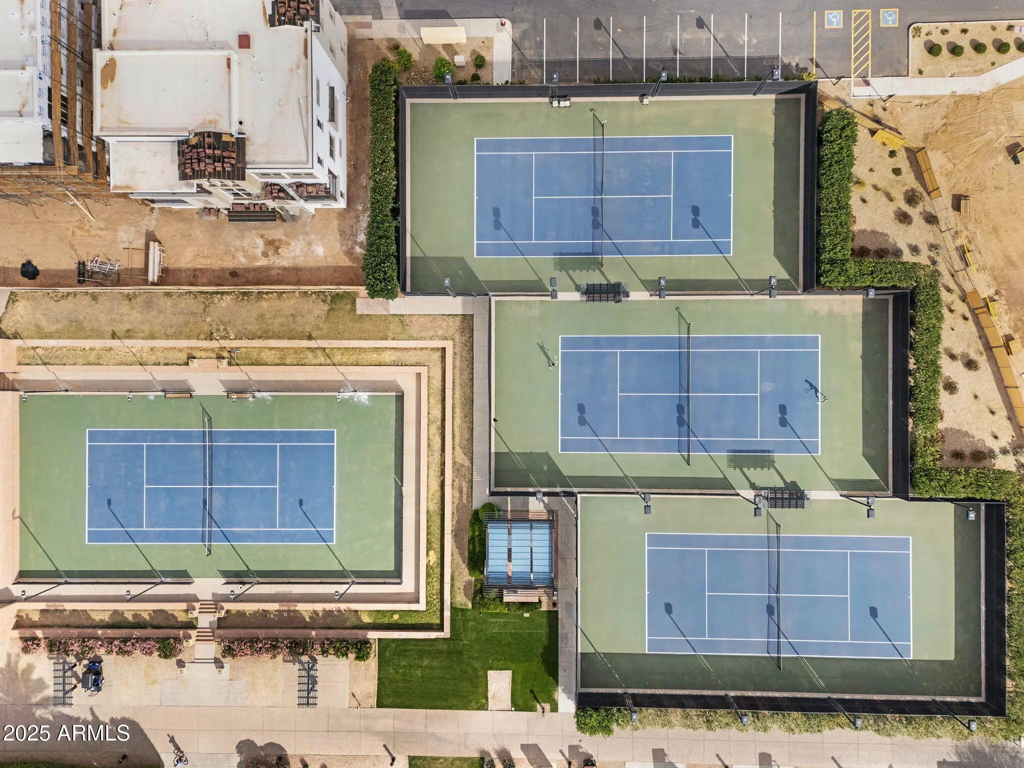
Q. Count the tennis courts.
4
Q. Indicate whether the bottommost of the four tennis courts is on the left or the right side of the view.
right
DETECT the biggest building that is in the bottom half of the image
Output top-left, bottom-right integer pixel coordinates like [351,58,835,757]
[483,511,555,597]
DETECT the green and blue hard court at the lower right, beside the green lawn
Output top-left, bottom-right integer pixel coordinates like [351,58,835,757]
[579,494,986,702]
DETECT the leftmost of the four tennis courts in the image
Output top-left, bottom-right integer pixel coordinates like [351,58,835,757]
[18,390,403,584]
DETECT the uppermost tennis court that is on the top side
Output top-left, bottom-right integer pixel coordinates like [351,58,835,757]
[406,94,805,298]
